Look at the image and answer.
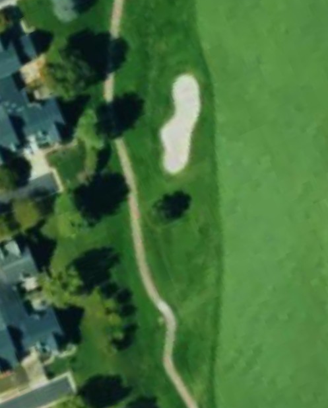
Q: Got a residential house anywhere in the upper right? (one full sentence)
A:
No, no residential house appears in the upper right.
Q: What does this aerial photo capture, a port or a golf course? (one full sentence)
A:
The picture captures a golf course.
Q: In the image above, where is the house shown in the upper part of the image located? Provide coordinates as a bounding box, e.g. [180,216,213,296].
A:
[0,33,69,157]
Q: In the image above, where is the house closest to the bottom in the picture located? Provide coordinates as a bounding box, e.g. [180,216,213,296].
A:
[0,240,67,368]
